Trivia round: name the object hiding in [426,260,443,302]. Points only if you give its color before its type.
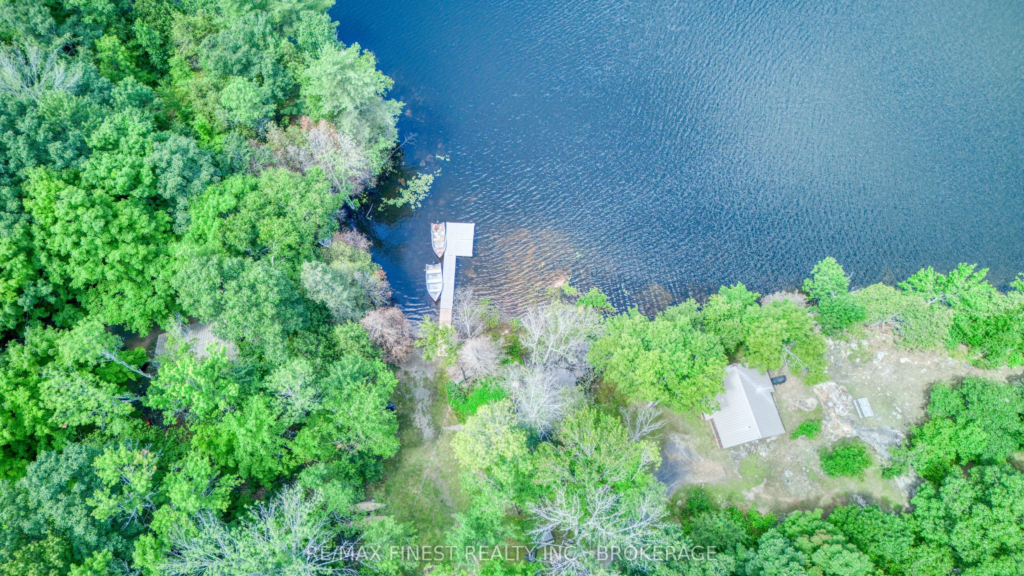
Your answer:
white boat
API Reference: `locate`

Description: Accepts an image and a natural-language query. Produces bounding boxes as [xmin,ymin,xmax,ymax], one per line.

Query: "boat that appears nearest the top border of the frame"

[431,219,446,258]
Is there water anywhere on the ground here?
Yes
